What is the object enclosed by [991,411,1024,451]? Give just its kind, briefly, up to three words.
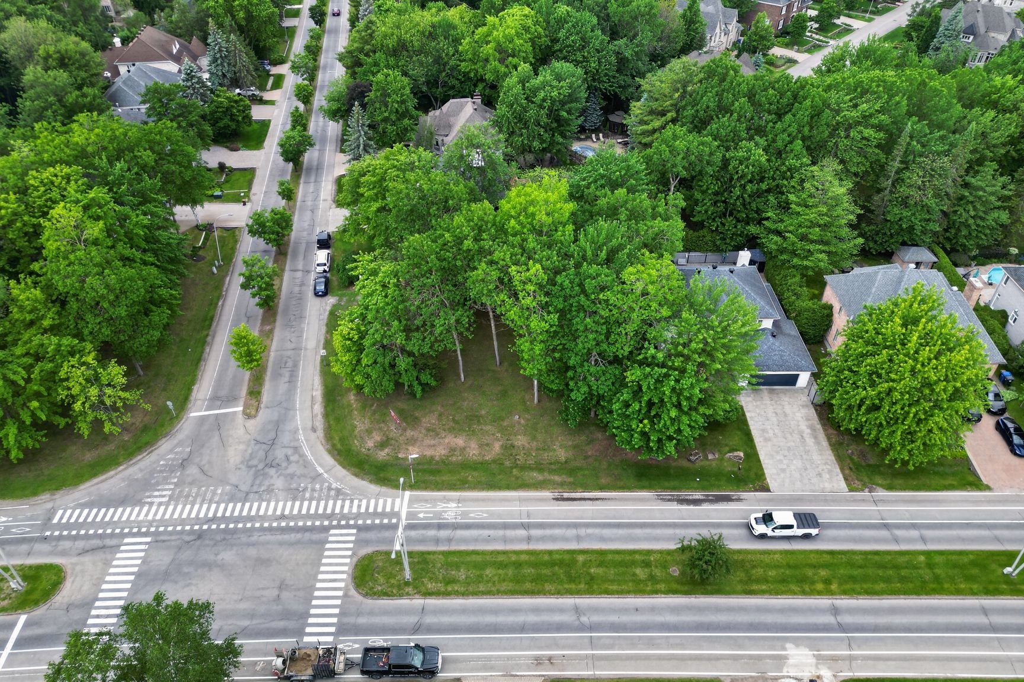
car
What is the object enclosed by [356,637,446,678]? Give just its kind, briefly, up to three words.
truck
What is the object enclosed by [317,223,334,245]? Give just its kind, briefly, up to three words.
car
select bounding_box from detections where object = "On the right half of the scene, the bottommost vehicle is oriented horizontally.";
[744,506,822,537]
